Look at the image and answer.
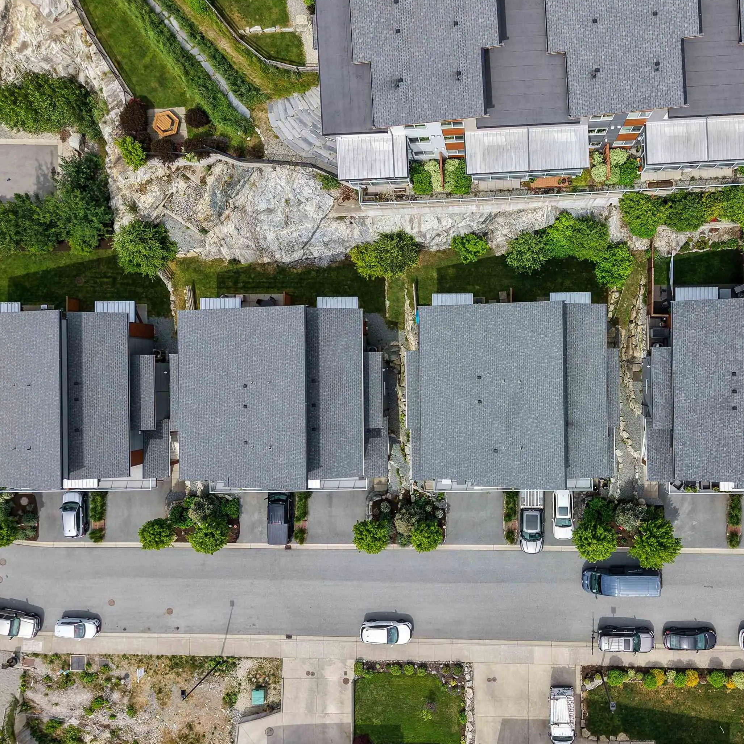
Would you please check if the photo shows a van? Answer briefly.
Yes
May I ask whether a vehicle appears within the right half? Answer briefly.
Yes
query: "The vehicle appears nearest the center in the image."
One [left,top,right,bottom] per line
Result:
[268,489,296,546]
